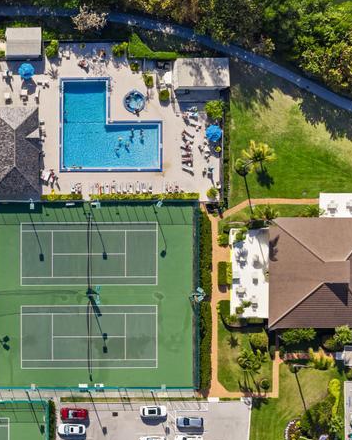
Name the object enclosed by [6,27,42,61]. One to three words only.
shed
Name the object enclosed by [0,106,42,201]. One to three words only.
building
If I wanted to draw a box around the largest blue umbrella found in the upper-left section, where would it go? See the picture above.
[18,63,34,79]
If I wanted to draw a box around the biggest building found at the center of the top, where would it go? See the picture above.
[170,58,231,90]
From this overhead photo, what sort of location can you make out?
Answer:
sports ground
